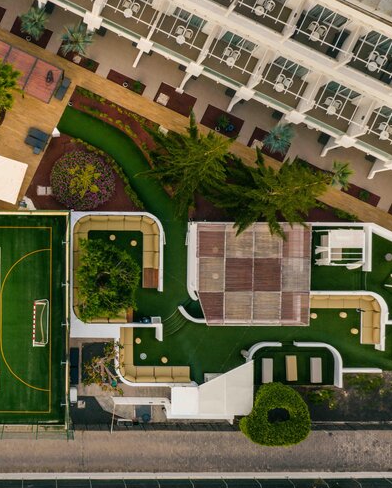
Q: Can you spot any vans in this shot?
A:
No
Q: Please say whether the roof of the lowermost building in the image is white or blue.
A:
white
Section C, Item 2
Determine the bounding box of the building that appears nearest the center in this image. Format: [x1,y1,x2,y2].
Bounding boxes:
[192,223,311,325]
